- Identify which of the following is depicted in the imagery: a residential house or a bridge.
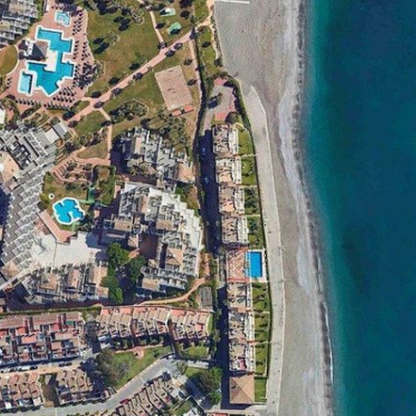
residential house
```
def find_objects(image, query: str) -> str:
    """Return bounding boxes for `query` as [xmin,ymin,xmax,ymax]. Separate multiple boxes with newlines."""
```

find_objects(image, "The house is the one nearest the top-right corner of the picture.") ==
[213,125,239,154]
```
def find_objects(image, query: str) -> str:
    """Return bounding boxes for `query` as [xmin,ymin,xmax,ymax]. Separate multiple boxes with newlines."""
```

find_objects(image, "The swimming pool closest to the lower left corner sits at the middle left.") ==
[53,198,84,224]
